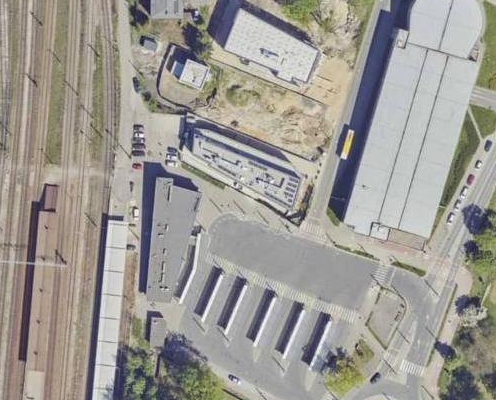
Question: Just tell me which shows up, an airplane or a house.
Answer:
house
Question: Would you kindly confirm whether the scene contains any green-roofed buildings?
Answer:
No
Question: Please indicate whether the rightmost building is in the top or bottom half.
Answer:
top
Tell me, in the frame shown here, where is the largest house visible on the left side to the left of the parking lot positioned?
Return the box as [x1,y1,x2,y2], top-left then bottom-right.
[43,184,58,210]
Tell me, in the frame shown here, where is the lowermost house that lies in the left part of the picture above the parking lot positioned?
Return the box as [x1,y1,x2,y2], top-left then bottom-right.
[171,59,209,89]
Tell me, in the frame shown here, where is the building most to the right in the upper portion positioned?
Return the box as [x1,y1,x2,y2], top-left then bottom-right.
[343,0,485,251]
